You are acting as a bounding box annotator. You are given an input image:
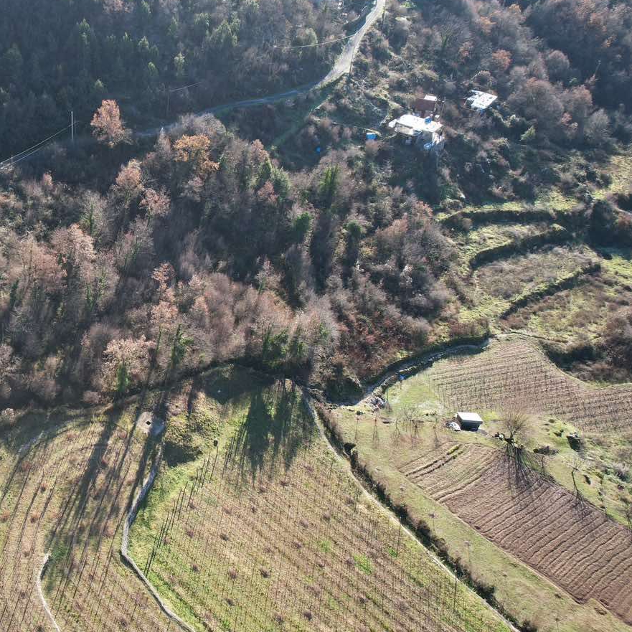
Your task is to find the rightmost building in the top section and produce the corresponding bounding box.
[463,91,498,122]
